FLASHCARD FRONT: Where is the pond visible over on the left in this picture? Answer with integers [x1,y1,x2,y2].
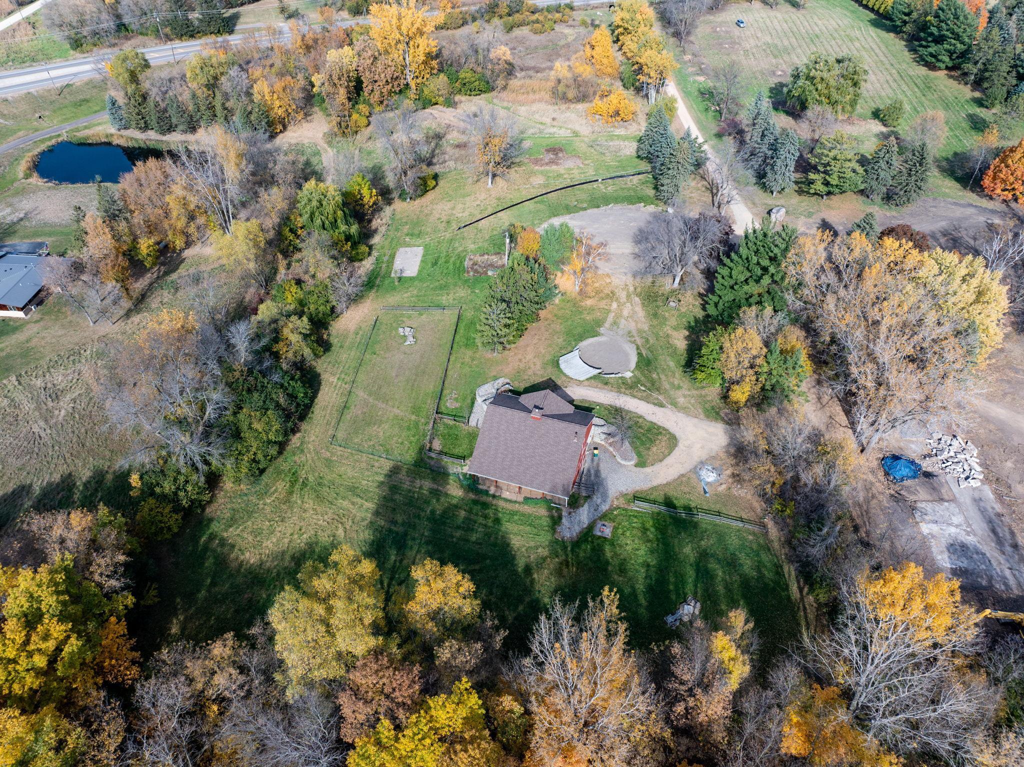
[36,144,207,186]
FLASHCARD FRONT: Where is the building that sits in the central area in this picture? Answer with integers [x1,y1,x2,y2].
[467,389,597,517]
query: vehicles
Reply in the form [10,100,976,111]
[958,609,1024,638]
[734,18,747,27]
